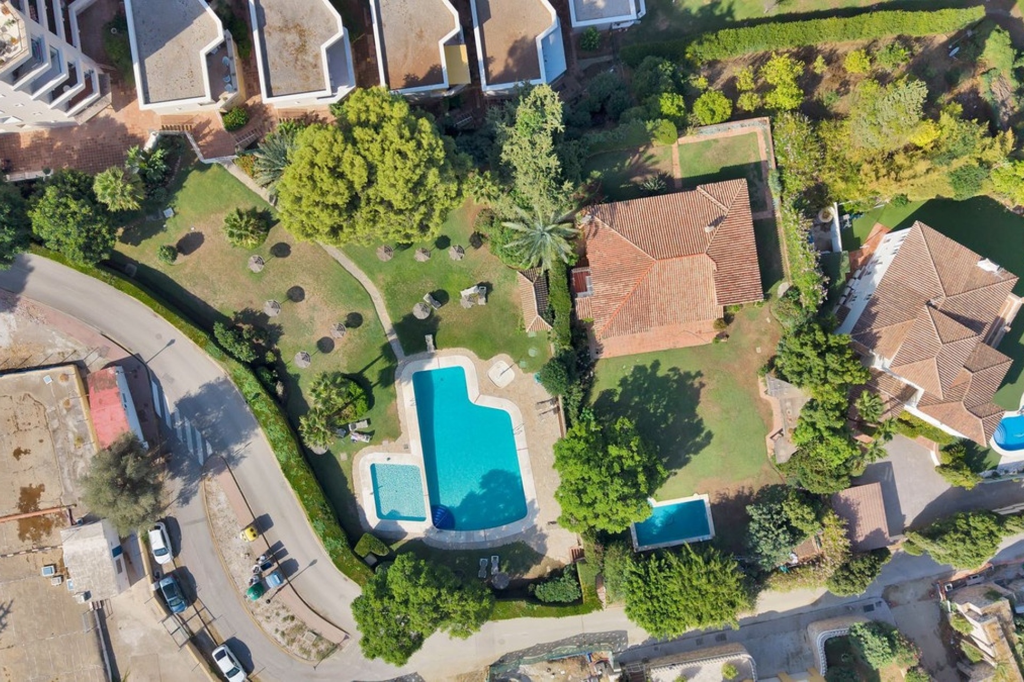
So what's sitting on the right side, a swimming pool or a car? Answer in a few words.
swimming pool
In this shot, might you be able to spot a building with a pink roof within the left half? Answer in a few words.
Yes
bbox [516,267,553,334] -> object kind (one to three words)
shed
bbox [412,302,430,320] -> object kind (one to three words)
umbrella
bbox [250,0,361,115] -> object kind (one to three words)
house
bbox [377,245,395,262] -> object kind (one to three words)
umbrella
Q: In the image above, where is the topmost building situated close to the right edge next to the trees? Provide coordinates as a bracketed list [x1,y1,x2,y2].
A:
[840,221,1024,448]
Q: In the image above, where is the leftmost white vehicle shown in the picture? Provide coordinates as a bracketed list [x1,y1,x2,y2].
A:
[147,523,172,565]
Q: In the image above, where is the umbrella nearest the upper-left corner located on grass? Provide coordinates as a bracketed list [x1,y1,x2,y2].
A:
[248,255,266,273]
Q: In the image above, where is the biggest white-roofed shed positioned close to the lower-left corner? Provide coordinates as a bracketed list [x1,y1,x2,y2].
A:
[60,518,132,603]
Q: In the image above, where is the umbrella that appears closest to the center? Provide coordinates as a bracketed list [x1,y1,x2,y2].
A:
[460,291,478,308]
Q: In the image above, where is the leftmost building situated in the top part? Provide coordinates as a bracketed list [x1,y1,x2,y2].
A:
[0,0,108,131]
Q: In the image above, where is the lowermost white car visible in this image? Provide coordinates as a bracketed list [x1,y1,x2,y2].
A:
[211,645,245,682]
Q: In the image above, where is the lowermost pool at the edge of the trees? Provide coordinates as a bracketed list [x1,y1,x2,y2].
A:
[629,495,715,552]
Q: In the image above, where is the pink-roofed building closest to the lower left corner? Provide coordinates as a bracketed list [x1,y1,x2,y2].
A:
[88,366,152,450]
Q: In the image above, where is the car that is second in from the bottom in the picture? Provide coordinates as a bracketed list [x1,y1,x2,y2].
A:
[158,574,188,614]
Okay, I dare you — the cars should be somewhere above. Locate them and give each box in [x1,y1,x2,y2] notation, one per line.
[147,523,172,565]
[211,645,245,682]
[158,574,188,614]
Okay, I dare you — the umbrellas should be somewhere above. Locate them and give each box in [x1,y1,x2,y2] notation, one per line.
[264,299,282,317]
[313,441,329,455]
[330,321,349,340]
[447,243,464,261]
[248,255,266,273]
[294,350,312,368]
[377,245,395,262]
[412,302,430,320]
[413,245,430,263]
[460,291,478,308]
